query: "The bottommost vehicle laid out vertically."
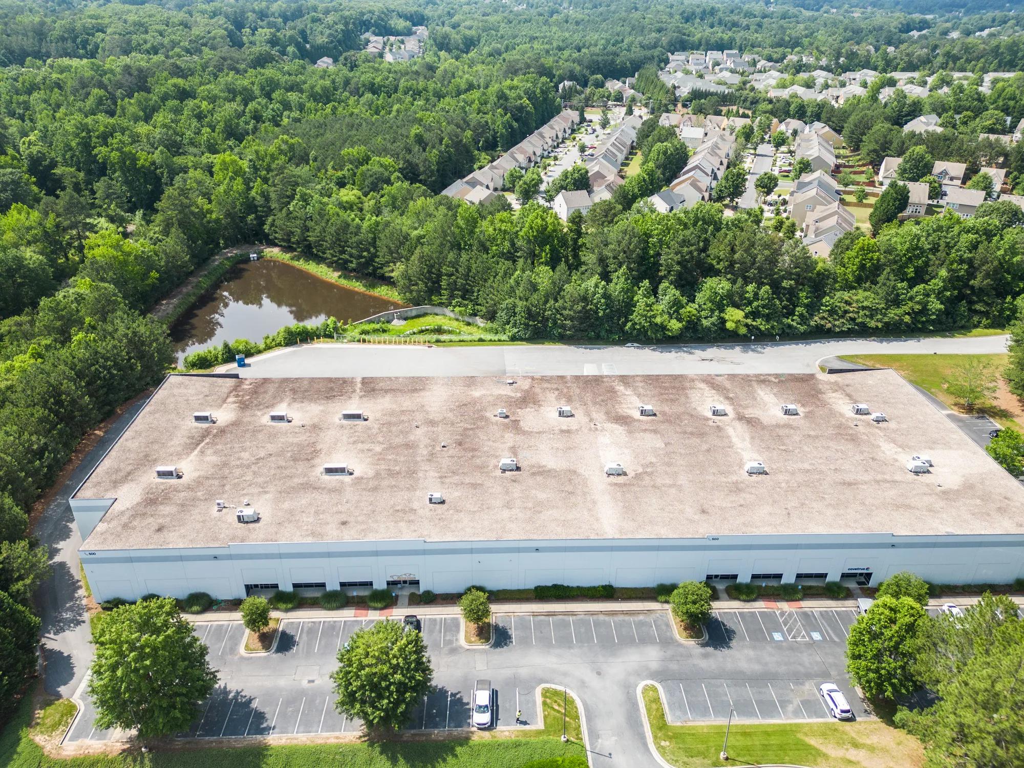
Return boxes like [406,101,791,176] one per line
[474,678,493,724]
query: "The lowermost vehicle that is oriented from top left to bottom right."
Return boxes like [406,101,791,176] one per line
[821,679,855,715]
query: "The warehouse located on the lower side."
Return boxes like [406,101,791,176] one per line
[67,368,1024,603]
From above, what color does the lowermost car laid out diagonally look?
white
